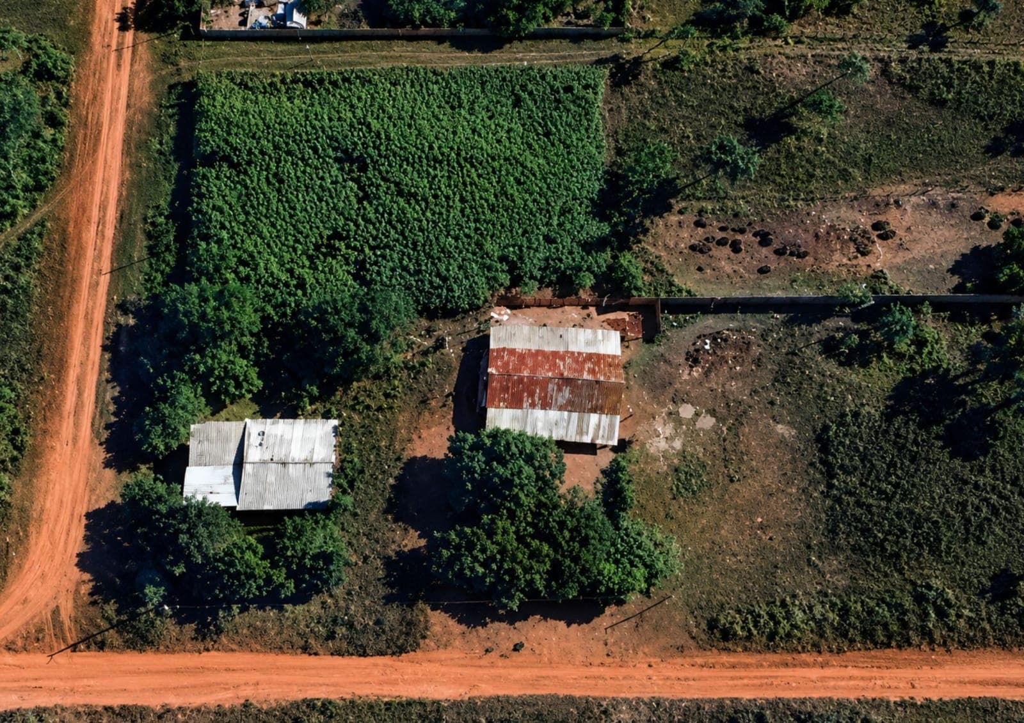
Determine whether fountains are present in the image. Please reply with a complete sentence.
No, the picture doesn't show any fountain.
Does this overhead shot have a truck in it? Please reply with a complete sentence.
No, I can see no truck in this picture.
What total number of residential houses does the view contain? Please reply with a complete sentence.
There are 2 residential houses in the image.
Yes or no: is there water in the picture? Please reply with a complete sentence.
No, no water is visible.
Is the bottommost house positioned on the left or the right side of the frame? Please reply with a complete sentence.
You can find the bottommost house on the left side of the picture.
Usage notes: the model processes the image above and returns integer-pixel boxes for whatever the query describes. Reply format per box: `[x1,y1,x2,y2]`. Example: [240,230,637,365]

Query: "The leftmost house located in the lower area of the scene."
[184,419,339,511]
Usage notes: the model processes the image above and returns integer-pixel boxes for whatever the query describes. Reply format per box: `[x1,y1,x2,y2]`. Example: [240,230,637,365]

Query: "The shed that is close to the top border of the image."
[286,3,306,29]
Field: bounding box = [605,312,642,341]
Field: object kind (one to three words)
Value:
shed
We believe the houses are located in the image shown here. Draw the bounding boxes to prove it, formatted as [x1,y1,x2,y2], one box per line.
[477,325,625,447]
[184,419,339,511]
